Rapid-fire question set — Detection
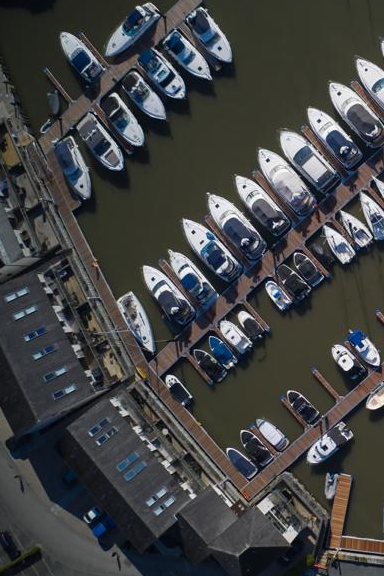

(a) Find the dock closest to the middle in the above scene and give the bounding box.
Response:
[159,258,202,310]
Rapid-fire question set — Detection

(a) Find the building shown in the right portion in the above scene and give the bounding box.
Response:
[162,475,304,576]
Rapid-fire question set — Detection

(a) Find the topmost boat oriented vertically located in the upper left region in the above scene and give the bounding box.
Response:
[50,89,62,116]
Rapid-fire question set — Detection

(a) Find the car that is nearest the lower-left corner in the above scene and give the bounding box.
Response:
[0,527,24,561]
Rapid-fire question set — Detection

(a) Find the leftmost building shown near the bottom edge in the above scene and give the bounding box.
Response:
[59,386,210,557]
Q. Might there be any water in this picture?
Yes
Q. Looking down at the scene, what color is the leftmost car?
black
